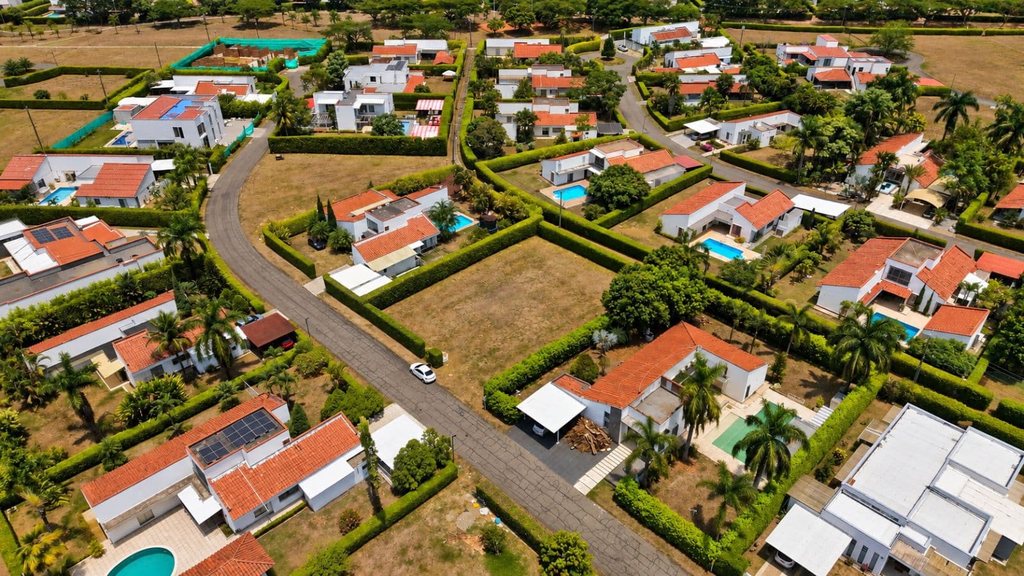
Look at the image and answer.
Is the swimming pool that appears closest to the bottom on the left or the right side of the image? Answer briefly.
left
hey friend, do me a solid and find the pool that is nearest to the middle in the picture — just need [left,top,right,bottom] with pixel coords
[431,214,476,233]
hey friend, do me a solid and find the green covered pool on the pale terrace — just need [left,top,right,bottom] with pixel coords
[707,397,803,466]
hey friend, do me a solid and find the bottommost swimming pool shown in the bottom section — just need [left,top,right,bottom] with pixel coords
[107,547,183,576]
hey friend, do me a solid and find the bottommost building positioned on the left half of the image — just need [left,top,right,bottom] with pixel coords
[177,530,276,576]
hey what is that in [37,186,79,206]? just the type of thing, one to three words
swimming pool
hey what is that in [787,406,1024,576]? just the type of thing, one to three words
house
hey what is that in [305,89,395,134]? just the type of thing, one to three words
house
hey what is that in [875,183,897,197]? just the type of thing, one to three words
swimming pool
